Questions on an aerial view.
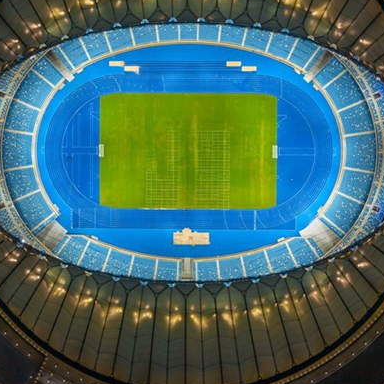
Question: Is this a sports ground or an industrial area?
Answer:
sports ground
